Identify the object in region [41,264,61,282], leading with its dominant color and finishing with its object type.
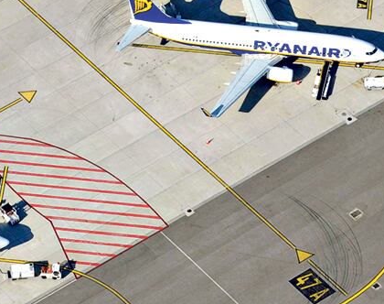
white work vehicle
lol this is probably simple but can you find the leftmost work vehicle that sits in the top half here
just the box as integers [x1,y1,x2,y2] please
[314,60,334,95]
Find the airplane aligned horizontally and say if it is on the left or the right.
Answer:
right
